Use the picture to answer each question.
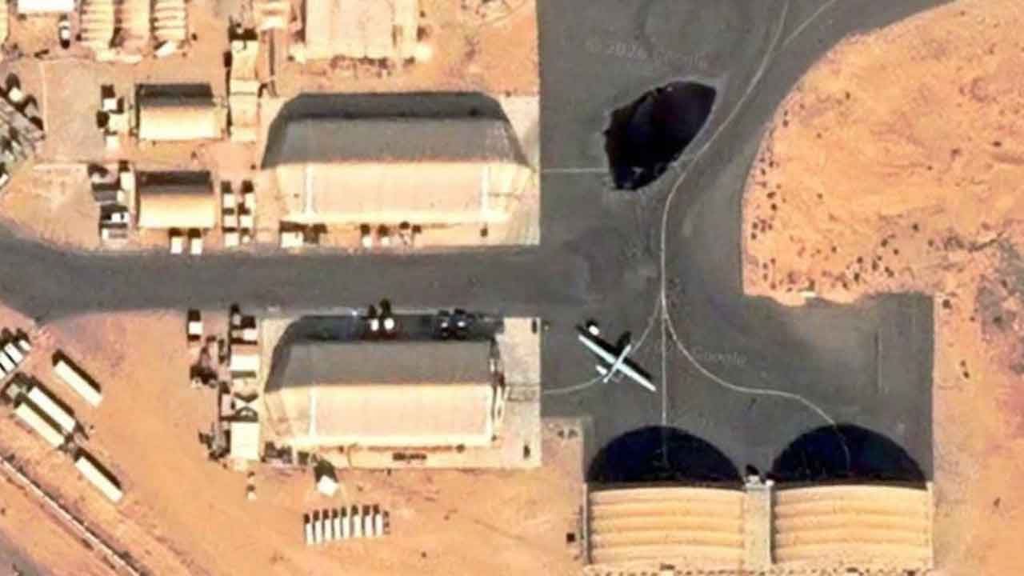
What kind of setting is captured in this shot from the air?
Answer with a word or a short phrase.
airport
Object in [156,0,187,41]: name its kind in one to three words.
tent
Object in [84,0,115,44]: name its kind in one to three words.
tent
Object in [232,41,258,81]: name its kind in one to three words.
building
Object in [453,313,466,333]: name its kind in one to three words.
vehicle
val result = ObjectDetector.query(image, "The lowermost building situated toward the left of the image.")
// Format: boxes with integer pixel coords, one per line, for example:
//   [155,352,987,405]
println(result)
[230,423,259,462]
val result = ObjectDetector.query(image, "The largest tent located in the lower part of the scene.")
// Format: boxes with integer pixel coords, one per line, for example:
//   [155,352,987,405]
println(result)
[231,378,258,395]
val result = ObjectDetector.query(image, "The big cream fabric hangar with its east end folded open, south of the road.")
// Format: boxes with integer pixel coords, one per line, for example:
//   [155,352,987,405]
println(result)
[262,335,505,449]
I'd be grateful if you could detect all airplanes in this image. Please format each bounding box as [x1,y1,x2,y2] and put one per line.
[578,335,657,391]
